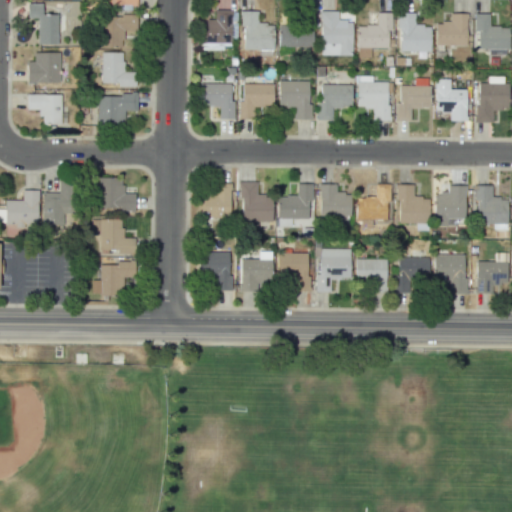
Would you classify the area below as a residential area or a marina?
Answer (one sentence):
What you see here is a residential area.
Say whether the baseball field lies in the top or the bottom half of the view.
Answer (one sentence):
Seen from above, the baseball field lies in the bottom half of the view.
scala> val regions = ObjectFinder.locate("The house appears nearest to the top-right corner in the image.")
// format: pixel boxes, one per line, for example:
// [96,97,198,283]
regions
[475,14,512,51]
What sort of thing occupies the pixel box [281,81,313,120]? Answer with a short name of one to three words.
house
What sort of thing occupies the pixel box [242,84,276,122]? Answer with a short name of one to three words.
house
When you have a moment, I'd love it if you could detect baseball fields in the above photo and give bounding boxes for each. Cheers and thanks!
[0,385,48,480]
